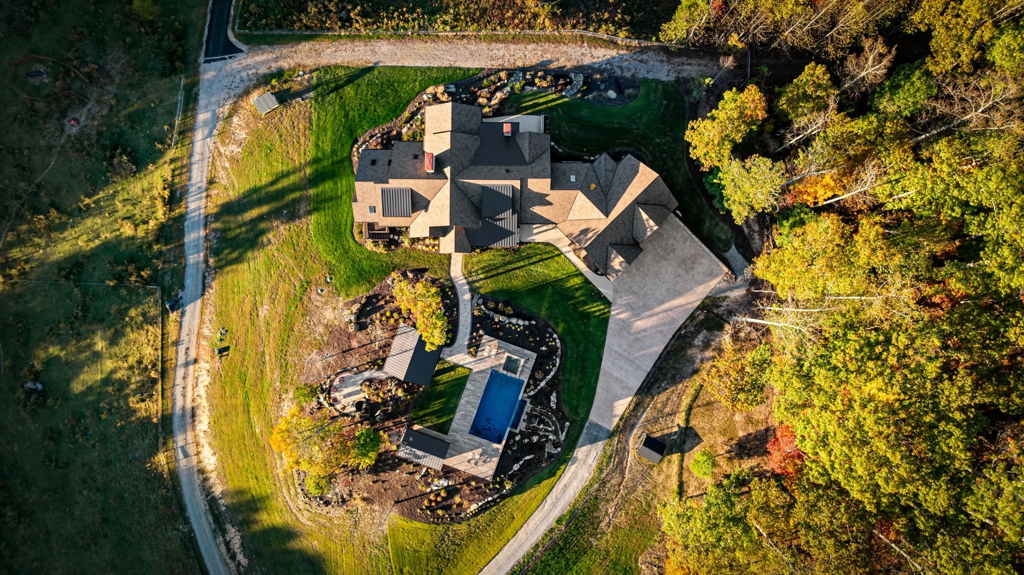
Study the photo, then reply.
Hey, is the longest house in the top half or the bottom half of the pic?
top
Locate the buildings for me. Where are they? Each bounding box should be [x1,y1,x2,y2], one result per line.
[635,433,667,464]
[383,323,442,386]
[253,92,282,116]
[352,102,679,282]
[397,427,450,471]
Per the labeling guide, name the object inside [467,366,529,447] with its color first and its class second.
blue swimming pool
